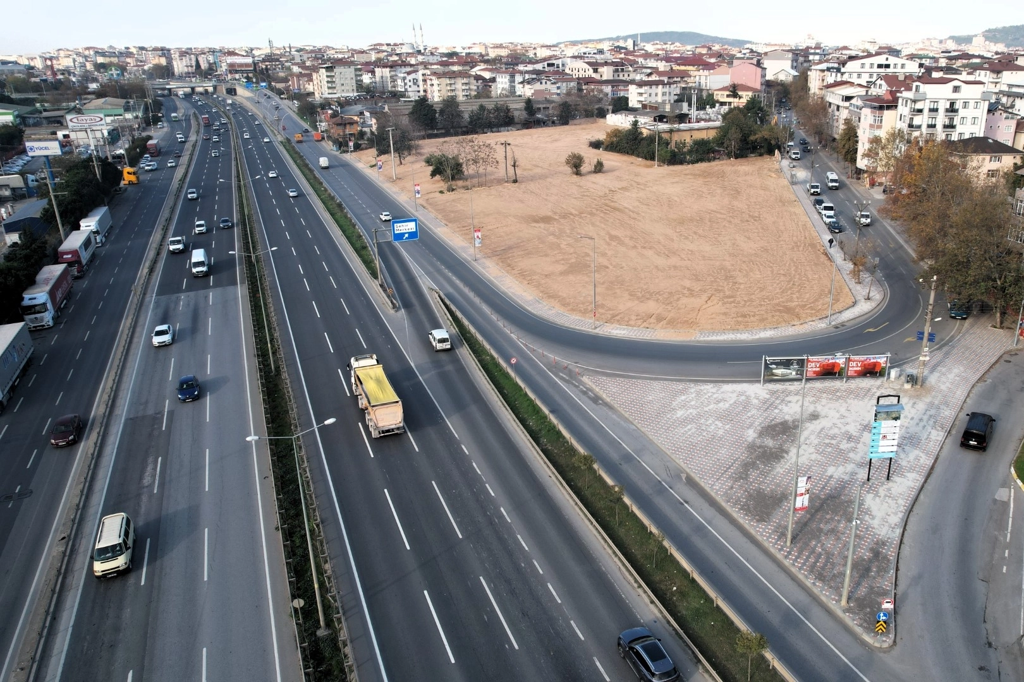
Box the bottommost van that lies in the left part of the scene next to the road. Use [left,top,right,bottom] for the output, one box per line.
[89,505,136,576]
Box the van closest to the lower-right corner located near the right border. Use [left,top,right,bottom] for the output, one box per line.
[960,405,996,449]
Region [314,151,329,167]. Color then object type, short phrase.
white vehicle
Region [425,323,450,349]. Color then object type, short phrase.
white vehicle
